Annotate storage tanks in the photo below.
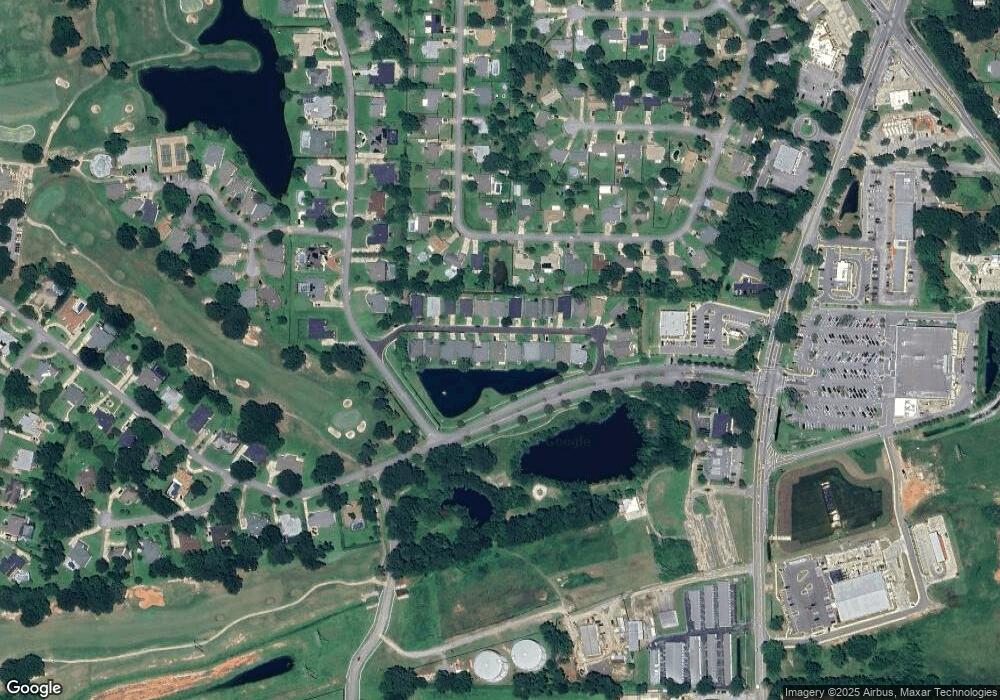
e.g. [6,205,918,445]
[474,651,507,679]
[511,639,547,671]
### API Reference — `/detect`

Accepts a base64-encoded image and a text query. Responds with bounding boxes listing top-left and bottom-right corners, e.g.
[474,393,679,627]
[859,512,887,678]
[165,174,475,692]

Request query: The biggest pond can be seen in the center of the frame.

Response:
[419,368,560,418]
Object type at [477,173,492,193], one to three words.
house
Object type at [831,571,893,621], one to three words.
building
